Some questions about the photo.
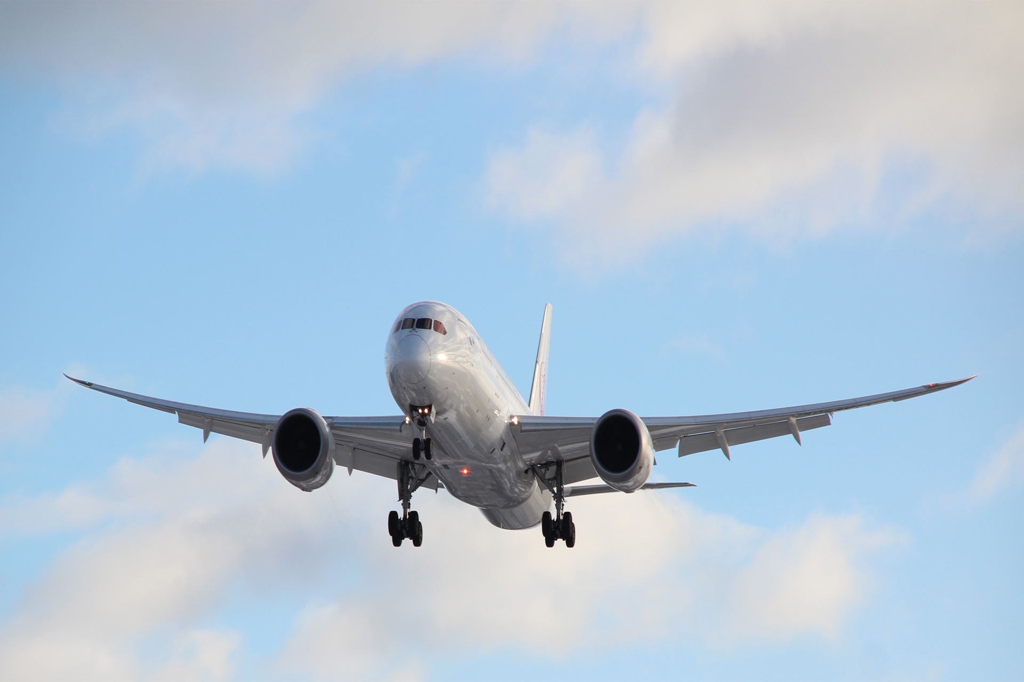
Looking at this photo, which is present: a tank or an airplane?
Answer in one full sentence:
Visible in the photo is an airplane.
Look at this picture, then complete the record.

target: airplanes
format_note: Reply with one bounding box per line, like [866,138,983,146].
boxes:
[62,300,977,547]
